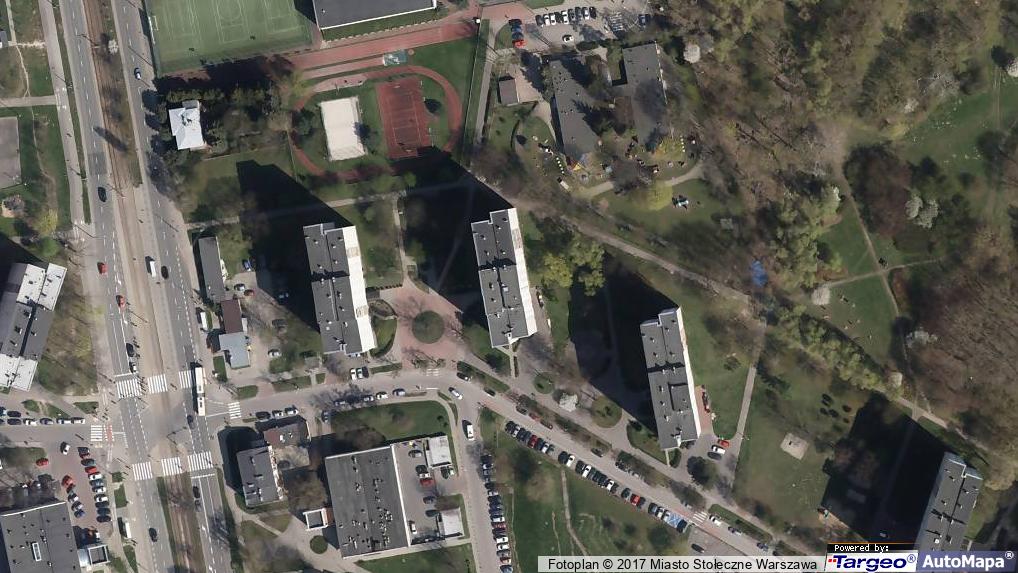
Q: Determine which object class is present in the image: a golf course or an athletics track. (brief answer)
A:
athletics track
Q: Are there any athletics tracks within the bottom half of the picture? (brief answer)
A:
No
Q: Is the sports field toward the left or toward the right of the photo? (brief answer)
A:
left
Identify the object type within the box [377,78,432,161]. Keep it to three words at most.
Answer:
sports court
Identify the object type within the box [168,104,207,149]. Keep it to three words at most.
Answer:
house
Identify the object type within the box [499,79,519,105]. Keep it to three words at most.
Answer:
shed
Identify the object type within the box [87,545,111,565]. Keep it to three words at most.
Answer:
building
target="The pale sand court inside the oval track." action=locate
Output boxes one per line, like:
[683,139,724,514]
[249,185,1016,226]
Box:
[320,96,368,160]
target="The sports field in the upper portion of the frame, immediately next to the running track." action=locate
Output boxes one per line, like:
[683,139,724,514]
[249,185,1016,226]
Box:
[147,0,314,84]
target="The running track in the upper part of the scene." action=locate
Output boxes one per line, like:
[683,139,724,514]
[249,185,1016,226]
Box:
[262,20,480,177]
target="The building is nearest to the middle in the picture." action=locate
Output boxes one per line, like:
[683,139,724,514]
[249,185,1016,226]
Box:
[471,208,536,348]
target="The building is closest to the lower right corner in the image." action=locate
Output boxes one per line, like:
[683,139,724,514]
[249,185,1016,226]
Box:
[908,453,982,573]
